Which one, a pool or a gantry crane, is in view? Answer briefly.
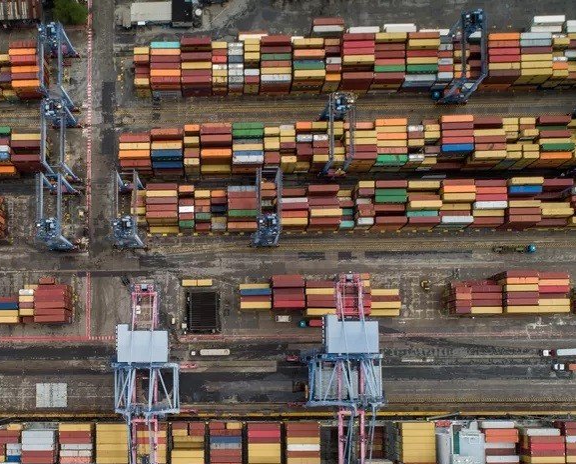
gantry crane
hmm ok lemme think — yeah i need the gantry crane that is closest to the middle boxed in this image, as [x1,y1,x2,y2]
[251,168,285,248]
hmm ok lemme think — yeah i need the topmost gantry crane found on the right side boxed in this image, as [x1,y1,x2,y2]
[442,7,488,101]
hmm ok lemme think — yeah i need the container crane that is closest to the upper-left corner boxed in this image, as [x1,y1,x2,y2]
[37,18,75,108]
